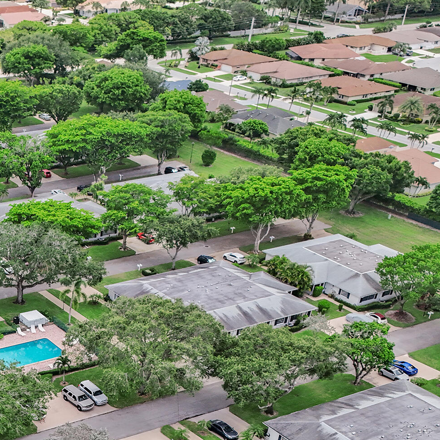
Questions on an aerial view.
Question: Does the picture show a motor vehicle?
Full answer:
Yes, this view includes a motor vehicle.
